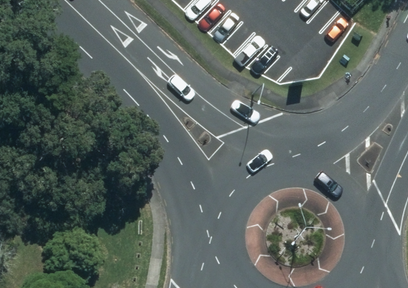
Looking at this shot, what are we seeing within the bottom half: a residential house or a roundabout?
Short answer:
roundabout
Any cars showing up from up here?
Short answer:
Yes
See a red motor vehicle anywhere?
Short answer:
Yes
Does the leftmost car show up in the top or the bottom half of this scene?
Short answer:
top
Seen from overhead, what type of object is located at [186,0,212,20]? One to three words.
car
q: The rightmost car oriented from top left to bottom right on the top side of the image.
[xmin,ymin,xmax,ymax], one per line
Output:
[230,100,258,124]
